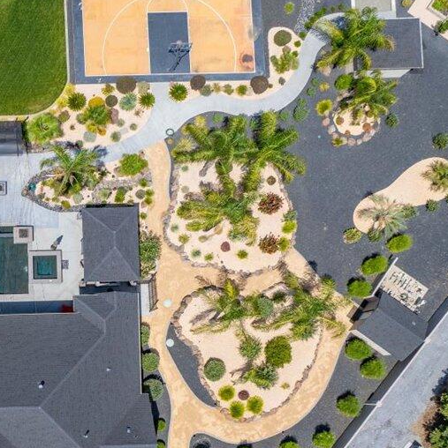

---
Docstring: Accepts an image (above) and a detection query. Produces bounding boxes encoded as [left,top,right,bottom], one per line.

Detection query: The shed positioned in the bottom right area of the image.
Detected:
[342,292,428,363]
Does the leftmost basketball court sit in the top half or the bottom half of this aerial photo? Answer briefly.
top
